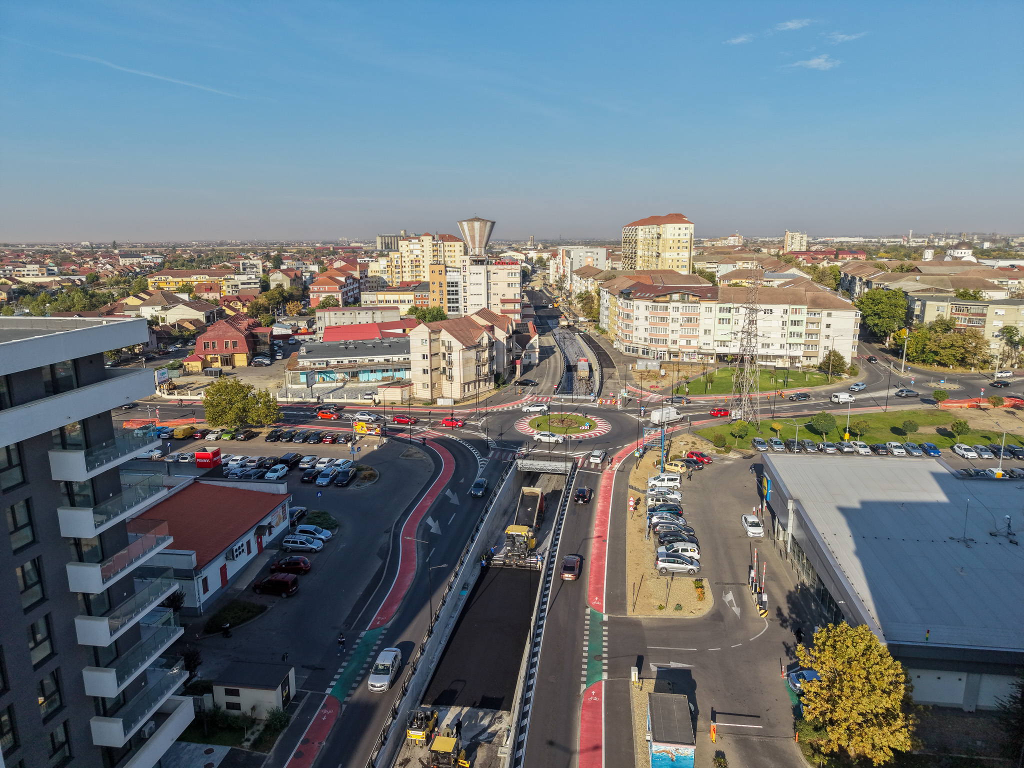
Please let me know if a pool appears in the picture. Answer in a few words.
No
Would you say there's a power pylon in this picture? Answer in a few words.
Yes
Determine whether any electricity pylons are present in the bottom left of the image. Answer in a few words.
No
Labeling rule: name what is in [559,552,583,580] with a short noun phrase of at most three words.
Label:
car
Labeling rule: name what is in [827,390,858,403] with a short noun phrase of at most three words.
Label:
vehicle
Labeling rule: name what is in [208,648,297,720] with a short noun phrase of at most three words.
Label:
shed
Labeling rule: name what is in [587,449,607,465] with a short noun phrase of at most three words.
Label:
car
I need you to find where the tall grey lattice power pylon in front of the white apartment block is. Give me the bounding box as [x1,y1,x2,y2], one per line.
[721,267,790,431]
